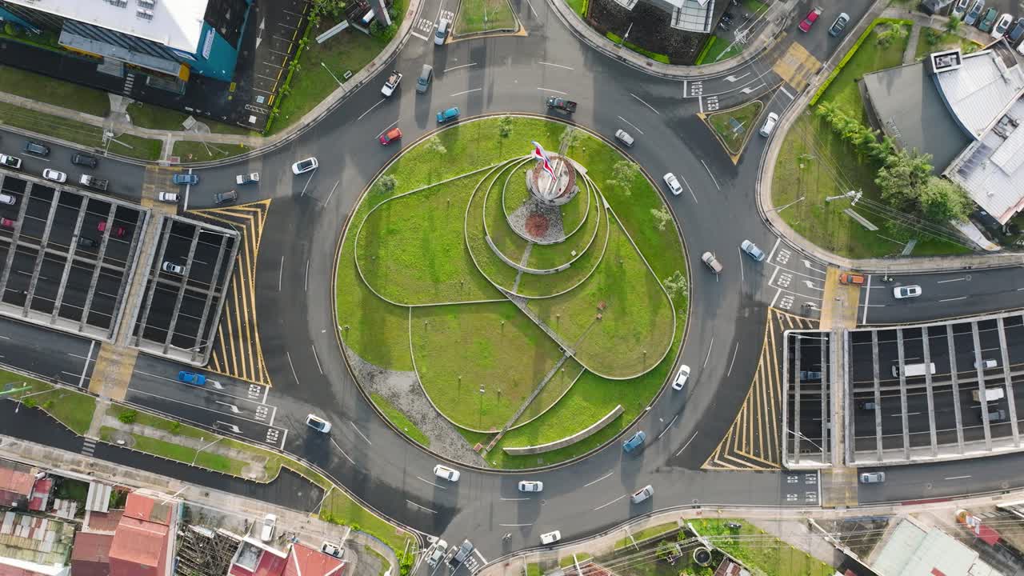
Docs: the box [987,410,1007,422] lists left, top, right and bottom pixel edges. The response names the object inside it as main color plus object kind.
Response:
gray vehicle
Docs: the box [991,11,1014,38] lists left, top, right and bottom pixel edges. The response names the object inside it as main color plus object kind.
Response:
white car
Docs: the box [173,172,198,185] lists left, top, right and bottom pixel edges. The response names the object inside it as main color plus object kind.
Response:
blue vehicle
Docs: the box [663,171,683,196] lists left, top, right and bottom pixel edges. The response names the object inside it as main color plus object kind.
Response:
white car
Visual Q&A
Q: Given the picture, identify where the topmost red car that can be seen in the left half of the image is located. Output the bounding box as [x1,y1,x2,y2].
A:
[378,128,401,144]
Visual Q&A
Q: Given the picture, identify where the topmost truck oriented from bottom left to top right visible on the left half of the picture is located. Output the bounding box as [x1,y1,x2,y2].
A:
[378,67,403,98]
